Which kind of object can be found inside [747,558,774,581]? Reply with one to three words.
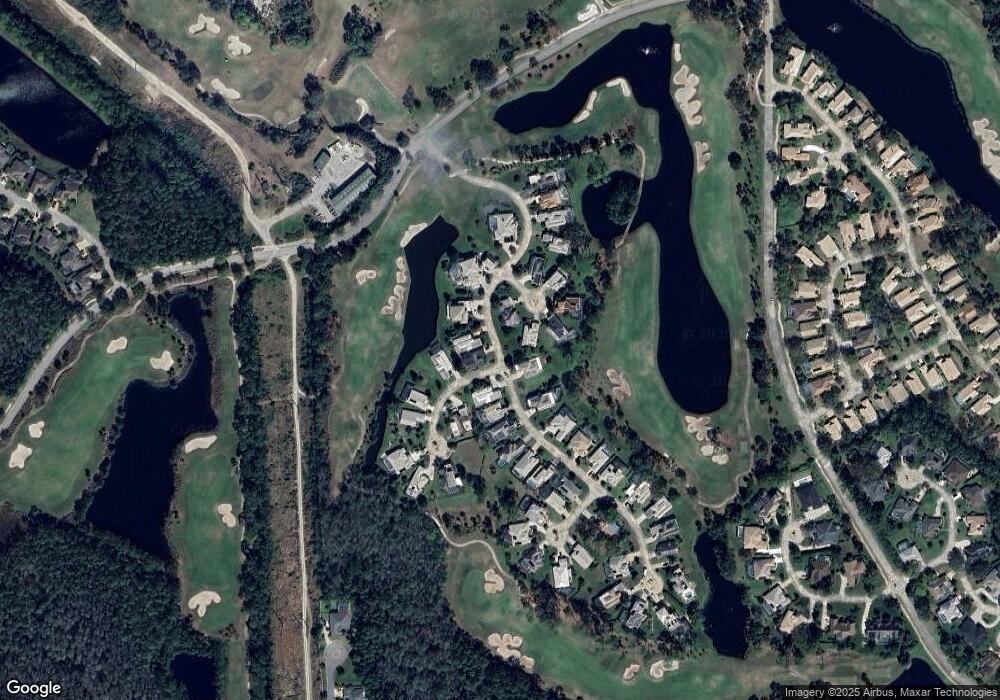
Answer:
house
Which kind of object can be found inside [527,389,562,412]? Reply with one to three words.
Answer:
house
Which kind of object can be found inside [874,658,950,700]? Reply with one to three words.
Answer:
pond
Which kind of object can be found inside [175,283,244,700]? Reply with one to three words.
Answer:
golf course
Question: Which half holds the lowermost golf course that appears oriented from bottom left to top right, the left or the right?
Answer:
left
